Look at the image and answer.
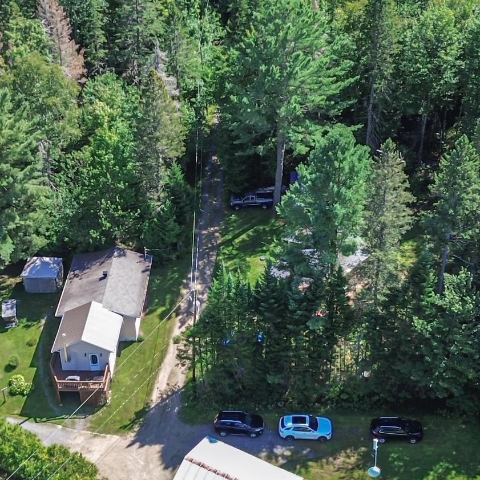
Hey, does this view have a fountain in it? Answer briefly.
No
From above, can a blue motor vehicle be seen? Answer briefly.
Yes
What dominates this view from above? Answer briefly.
trees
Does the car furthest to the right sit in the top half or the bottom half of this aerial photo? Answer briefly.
bottom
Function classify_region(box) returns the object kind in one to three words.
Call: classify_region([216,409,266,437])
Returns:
car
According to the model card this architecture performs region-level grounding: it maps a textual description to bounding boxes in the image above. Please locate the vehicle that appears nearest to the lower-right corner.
[370,417,424,444]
